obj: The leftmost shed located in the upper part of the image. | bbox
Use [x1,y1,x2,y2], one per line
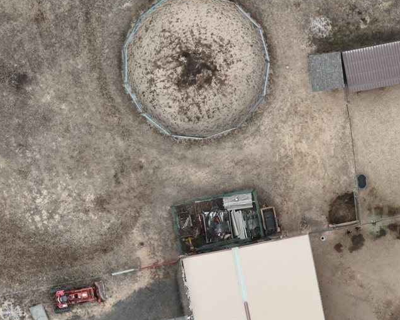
[307,52,344,96]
